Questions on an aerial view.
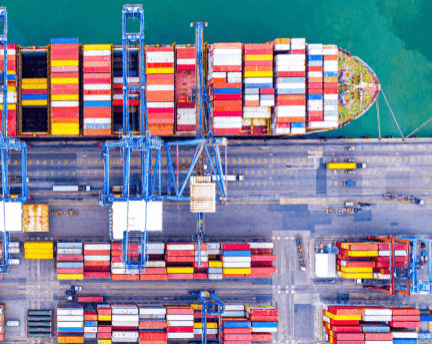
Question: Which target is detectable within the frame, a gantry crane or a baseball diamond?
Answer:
gantry crane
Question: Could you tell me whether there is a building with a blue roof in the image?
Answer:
No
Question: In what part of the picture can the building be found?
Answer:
bottom right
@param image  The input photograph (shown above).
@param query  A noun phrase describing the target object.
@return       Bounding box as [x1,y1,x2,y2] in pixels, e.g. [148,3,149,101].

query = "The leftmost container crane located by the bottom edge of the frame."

[188,291,232,344]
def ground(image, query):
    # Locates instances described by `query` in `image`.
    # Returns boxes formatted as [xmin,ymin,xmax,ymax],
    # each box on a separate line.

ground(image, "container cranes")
[87,0,168,274]
[152,19,224,266]
[0,1,34,274]
[188,291,232,344]
[381,235,432,299]
[356,235,412,299]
